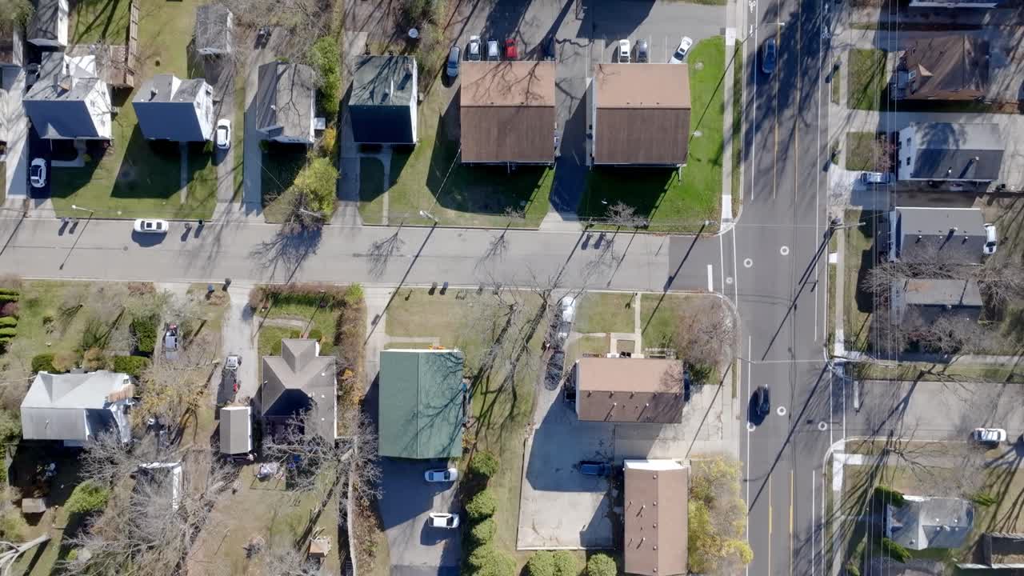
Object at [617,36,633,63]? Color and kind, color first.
white car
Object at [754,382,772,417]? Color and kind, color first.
black car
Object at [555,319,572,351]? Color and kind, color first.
gray car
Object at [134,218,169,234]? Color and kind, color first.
white car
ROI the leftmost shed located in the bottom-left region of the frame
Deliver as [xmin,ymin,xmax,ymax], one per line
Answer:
[20,496,51,513]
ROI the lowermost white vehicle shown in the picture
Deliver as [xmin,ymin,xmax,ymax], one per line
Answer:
[427,512,462,529]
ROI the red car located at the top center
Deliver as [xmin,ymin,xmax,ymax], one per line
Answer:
[503,36,519,61]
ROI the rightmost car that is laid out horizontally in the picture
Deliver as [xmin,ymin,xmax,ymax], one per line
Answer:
[972,427,1007,444]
